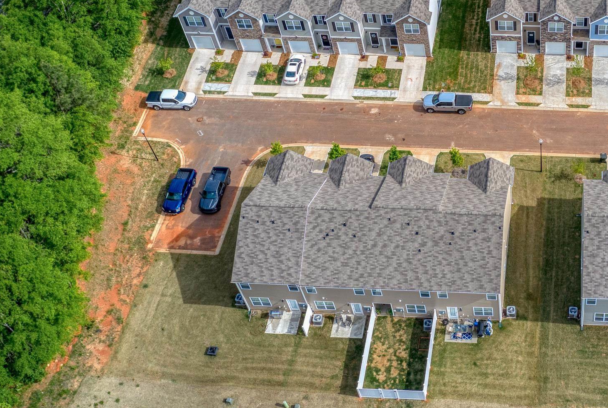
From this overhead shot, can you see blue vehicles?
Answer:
Yes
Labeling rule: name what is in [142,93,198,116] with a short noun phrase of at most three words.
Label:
truck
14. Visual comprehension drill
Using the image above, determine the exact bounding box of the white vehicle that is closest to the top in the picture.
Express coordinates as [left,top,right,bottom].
[283,55,305,86]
